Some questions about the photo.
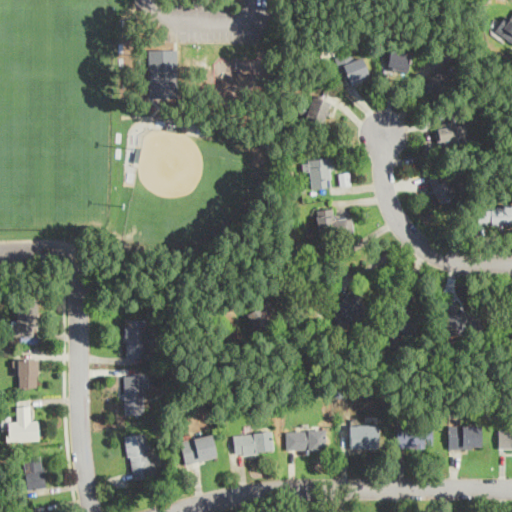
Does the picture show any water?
No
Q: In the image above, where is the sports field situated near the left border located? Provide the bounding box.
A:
[0,0,110,229]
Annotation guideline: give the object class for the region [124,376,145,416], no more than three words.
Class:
house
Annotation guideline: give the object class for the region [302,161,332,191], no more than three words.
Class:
house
